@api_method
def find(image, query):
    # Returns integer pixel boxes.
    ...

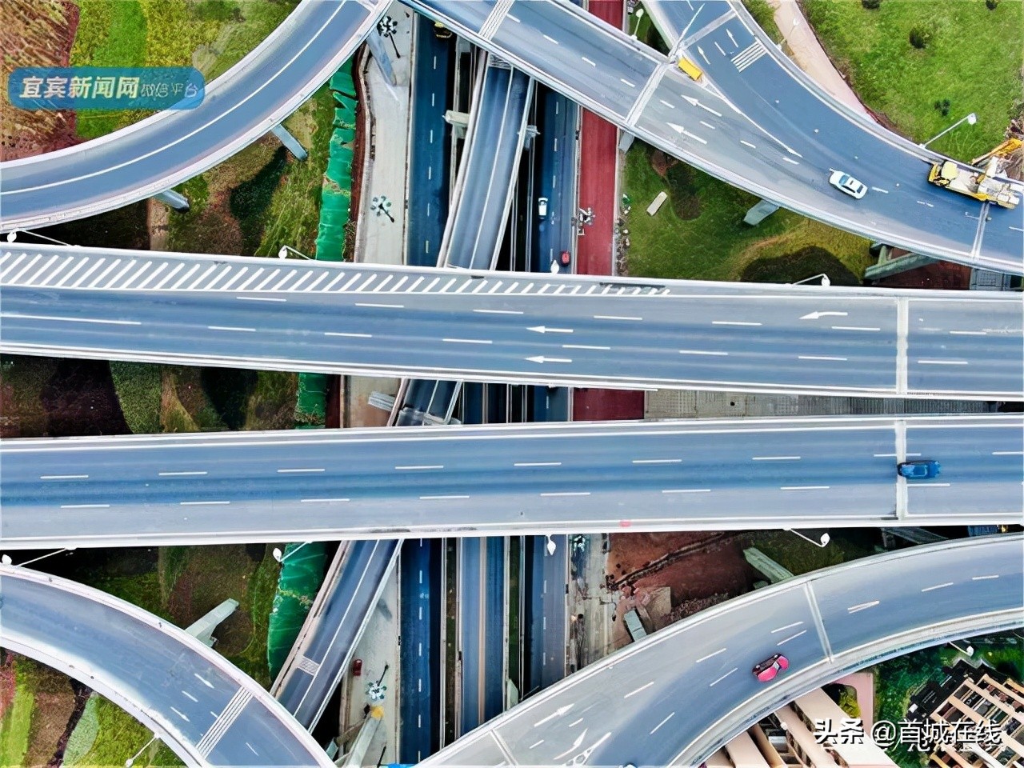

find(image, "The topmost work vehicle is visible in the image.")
[433,22,448,47]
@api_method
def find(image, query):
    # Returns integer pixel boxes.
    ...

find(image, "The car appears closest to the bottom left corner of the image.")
[350,658,362,679]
